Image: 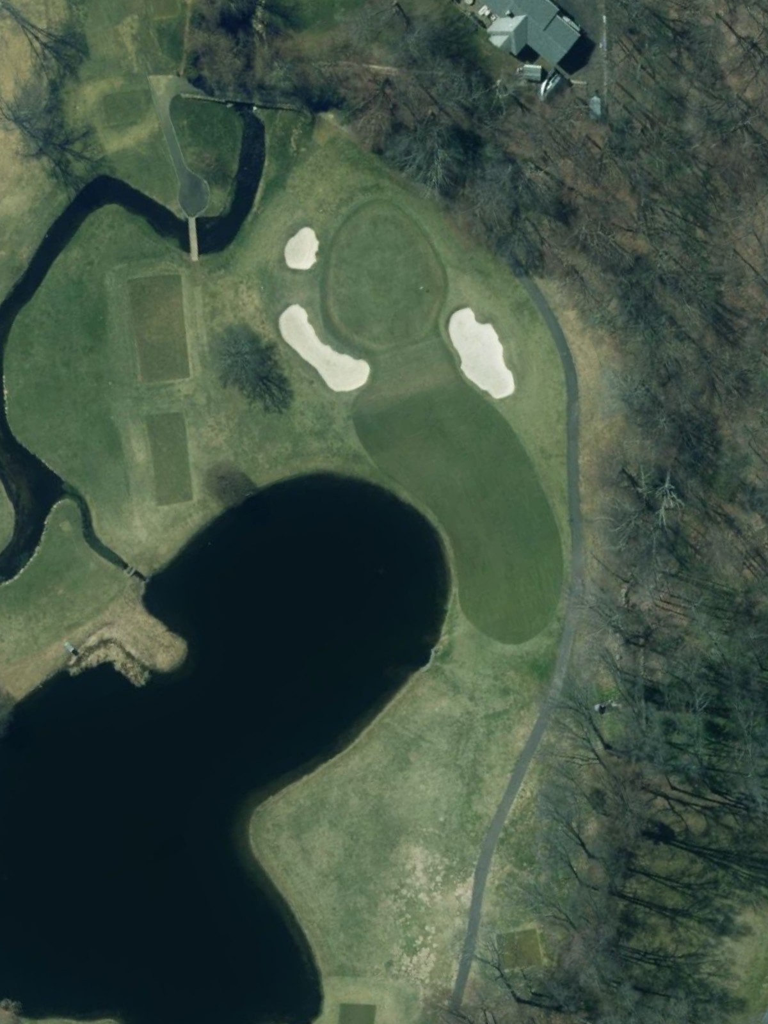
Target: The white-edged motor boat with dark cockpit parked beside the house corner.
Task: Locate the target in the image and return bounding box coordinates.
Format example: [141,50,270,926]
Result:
[543,67,562,98]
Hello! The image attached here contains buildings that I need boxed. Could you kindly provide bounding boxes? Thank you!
[483,0,580,63]
[524,63,541,80]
